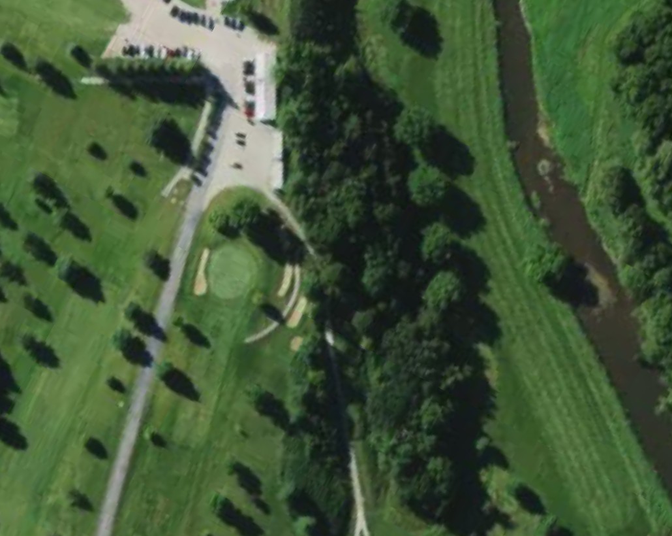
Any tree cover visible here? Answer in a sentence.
Yes, there's tree cover in this view.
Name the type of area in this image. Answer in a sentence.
This image shows a golf course.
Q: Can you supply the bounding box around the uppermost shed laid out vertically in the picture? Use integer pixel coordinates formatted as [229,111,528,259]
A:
[255,52,276,120]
